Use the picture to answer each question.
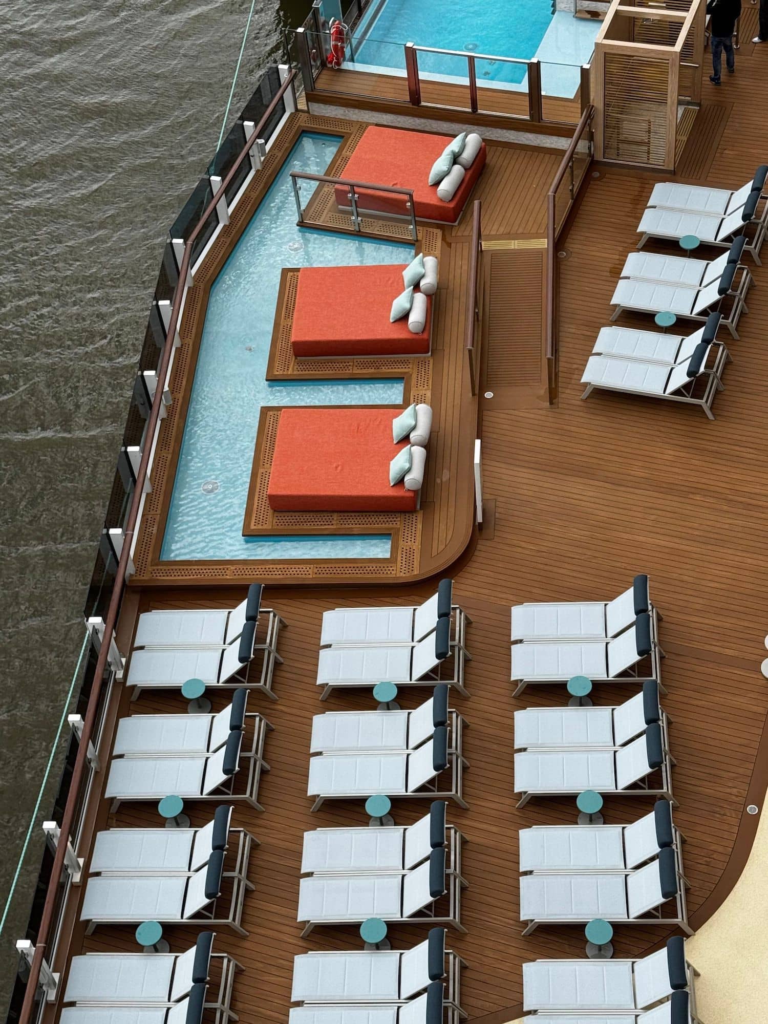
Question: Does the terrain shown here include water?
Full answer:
Yes, water shows up in the scene.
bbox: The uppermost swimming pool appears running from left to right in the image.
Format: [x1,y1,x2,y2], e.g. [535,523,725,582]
[344,0,604,99]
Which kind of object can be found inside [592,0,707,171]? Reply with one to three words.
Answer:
building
